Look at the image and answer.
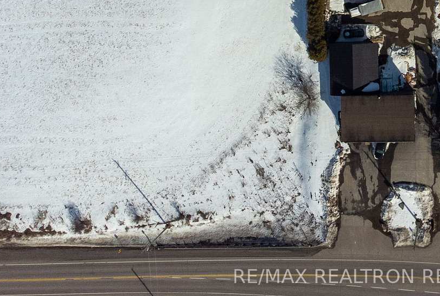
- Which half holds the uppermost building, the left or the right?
right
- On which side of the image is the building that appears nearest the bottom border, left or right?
right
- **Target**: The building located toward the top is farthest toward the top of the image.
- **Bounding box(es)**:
[330,41,379,96]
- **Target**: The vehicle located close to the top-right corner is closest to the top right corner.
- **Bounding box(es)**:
[349,0,384,19]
